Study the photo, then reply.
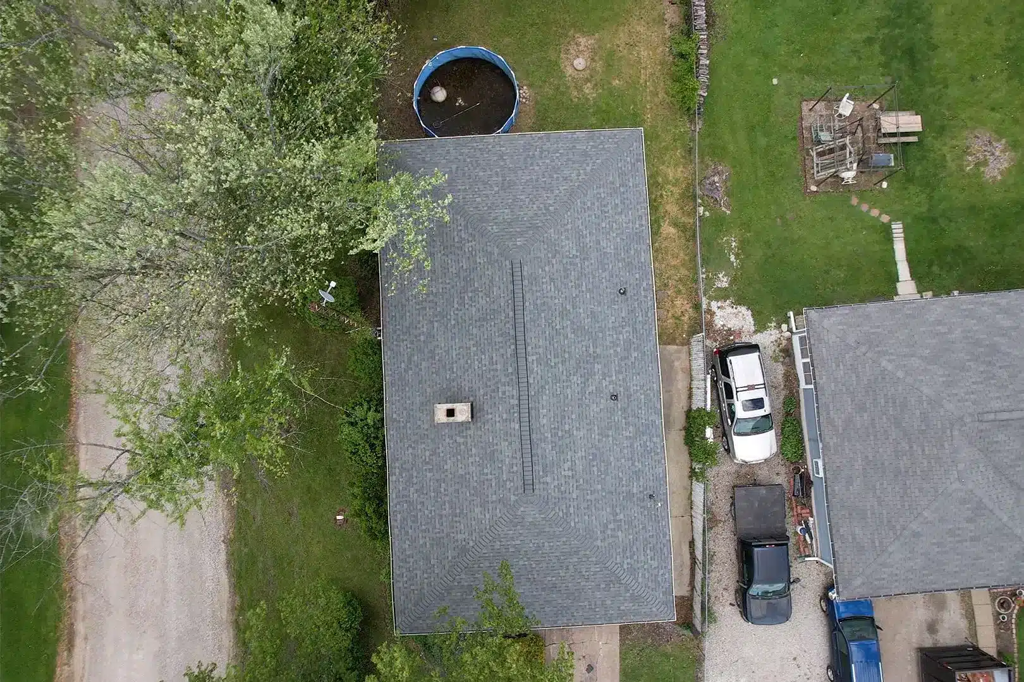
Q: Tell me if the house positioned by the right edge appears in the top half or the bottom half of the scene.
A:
bottom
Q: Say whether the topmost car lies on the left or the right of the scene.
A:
right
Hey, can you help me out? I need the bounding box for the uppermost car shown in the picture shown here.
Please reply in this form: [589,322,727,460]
[712,346,778,469]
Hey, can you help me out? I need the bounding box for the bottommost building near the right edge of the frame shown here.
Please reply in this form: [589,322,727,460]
[782,288,1024,601]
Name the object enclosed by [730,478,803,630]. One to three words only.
truck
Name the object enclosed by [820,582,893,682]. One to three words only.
car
